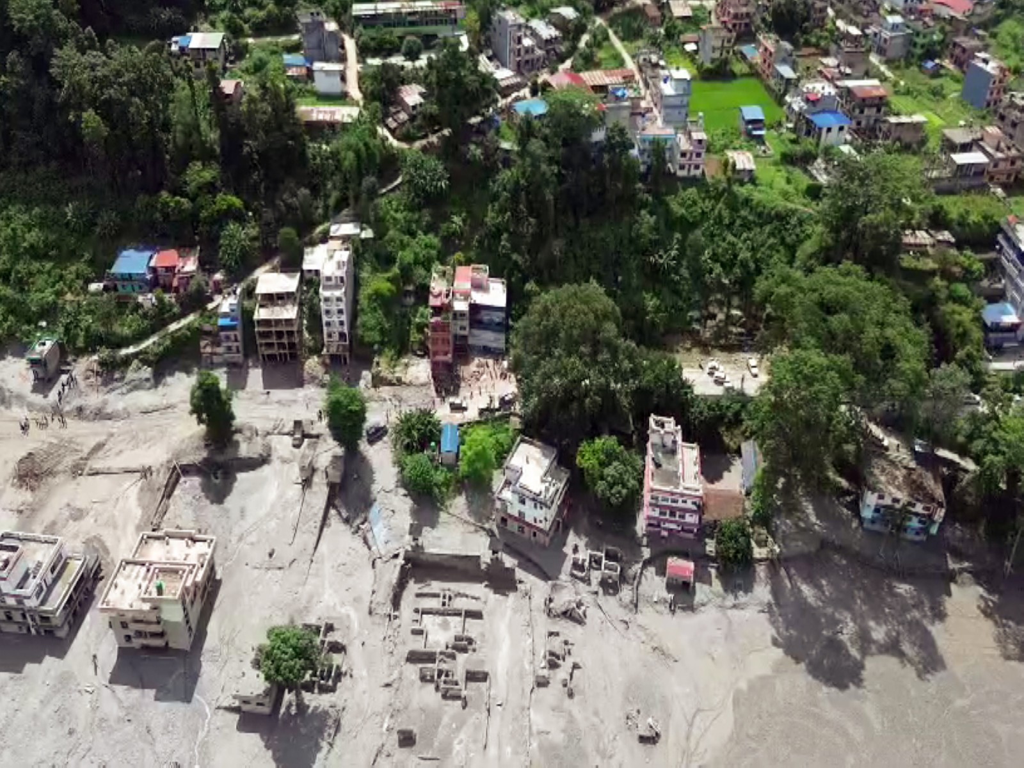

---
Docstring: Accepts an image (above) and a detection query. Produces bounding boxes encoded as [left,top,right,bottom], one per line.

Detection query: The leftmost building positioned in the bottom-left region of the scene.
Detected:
[0,525,103,636]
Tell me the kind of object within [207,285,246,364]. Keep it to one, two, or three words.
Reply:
house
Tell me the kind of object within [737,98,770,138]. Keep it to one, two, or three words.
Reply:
shed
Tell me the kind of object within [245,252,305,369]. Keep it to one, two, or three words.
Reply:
building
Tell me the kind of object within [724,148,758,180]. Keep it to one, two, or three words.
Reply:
shed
